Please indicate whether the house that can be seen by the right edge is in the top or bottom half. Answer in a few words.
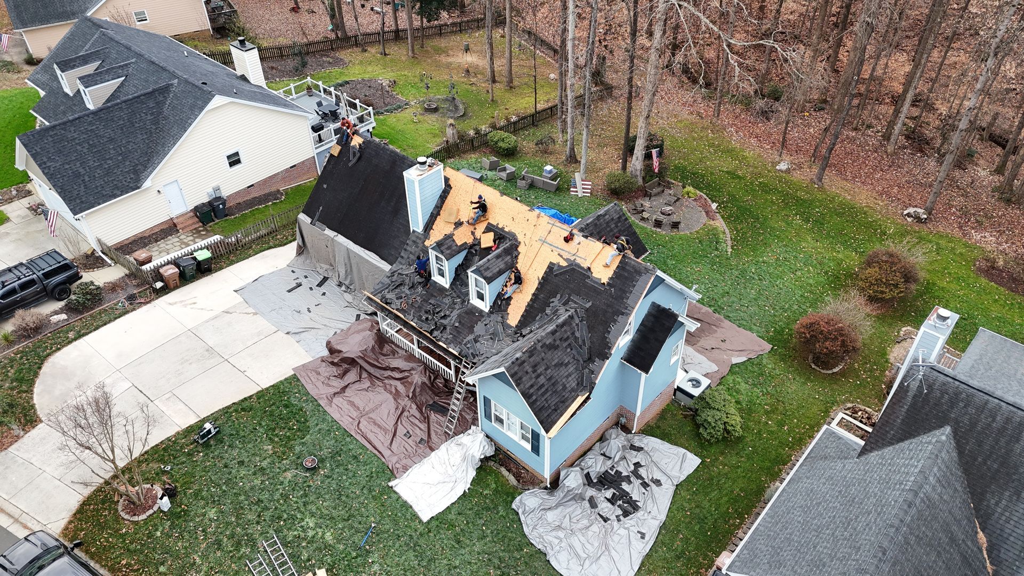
bottom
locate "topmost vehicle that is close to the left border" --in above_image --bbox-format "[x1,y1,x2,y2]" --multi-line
[0,241,88,322]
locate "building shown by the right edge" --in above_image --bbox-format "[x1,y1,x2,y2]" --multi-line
[710,300,1024,576]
